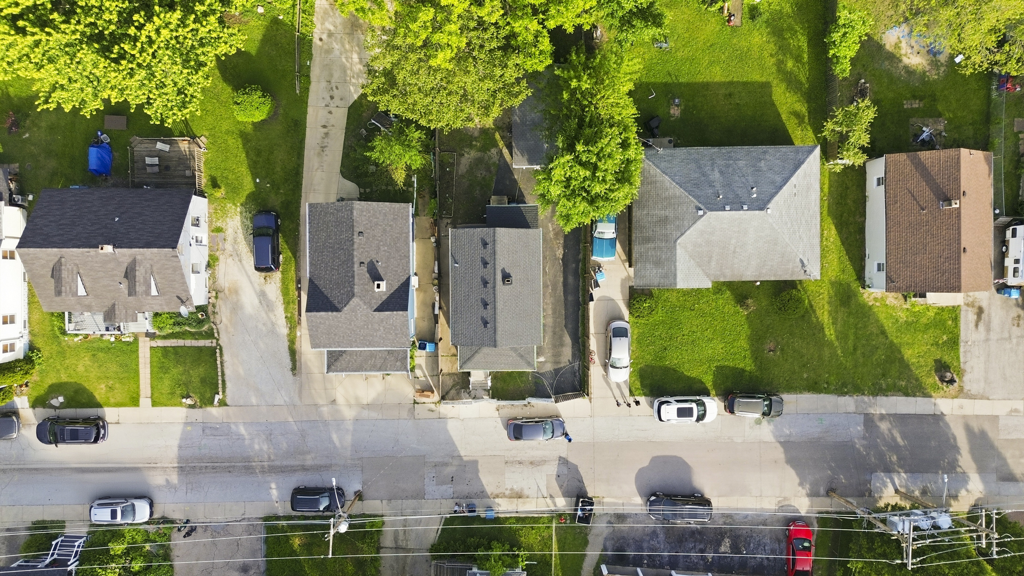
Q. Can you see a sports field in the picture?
No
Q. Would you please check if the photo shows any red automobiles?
Yes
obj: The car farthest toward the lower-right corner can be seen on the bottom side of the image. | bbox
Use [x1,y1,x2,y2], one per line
[784,518,816,576]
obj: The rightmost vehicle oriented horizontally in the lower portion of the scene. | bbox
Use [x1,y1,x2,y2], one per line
[722,392,782,421]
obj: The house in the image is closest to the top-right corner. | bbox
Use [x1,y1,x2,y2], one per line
[865,147,997,305]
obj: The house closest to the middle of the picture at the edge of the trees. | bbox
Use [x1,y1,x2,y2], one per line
[449,200,544,390]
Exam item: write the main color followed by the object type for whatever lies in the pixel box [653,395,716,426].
white car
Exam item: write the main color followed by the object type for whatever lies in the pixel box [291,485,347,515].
black car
